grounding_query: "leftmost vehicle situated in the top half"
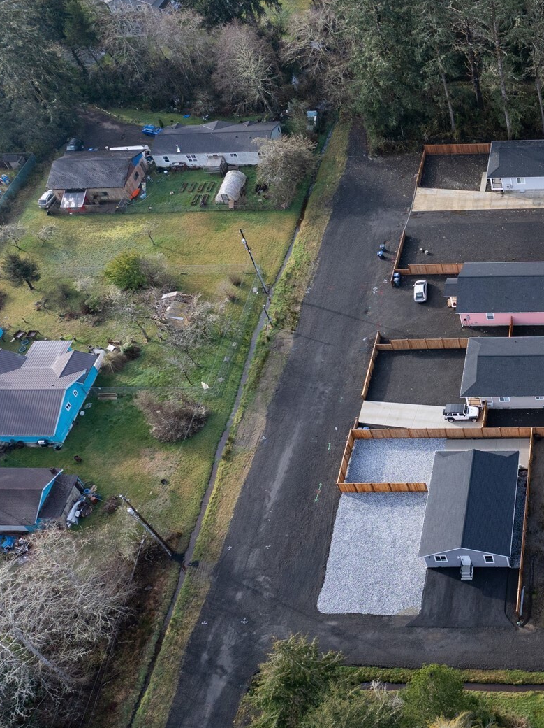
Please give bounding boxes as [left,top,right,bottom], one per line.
[32,191,57,211]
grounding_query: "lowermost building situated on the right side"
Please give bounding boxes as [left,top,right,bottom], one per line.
[418,449,520,566]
